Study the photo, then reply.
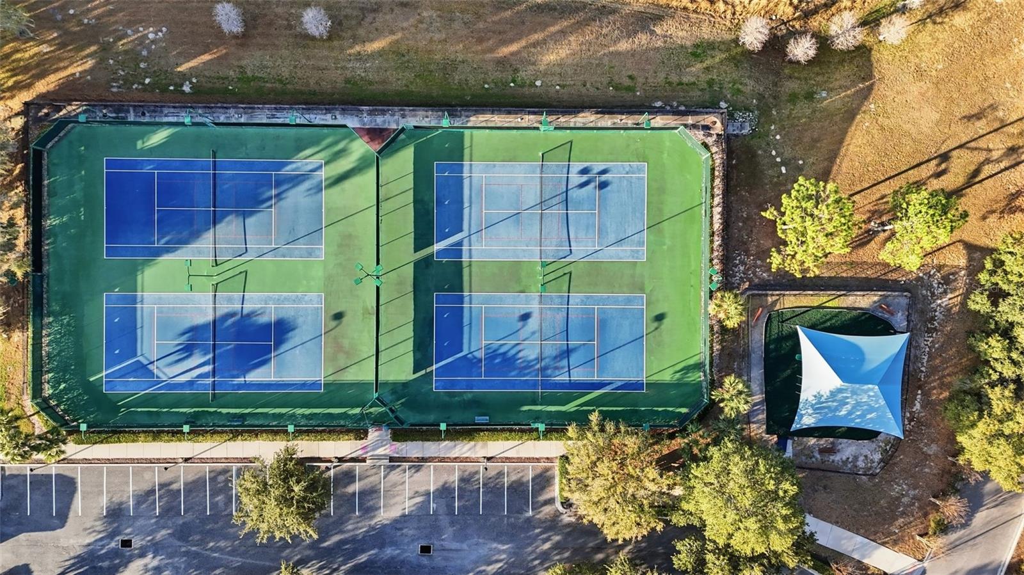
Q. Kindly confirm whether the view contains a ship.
No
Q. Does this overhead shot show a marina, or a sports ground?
sports ground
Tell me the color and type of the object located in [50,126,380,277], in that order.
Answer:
blue tennis court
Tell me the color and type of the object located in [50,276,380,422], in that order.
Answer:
blue tennis court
